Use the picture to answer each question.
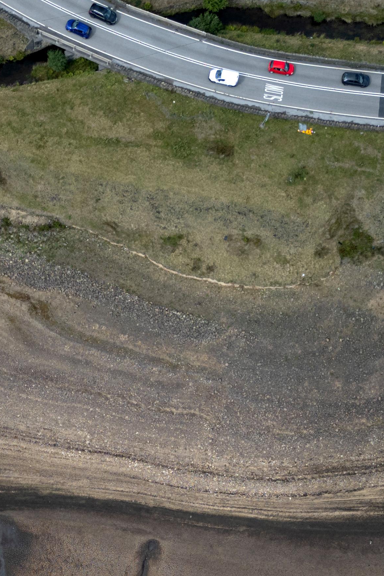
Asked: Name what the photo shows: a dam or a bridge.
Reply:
bridge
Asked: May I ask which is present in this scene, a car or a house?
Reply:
car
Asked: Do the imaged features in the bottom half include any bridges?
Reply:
No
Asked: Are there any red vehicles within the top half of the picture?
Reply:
Yes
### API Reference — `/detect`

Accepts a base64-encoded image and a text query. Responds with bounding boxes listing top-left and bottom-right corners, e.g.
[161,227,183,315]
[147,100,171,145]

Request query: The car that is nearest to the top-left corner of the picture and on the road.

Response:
[67,21,93,39]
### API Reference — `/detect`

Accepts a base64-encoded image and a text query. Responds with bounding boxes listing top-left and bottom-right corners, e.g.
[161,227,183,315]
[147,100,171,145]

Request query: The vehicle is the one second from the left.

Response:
[88,3,118,25]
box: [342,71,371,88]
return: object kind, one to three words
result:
car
